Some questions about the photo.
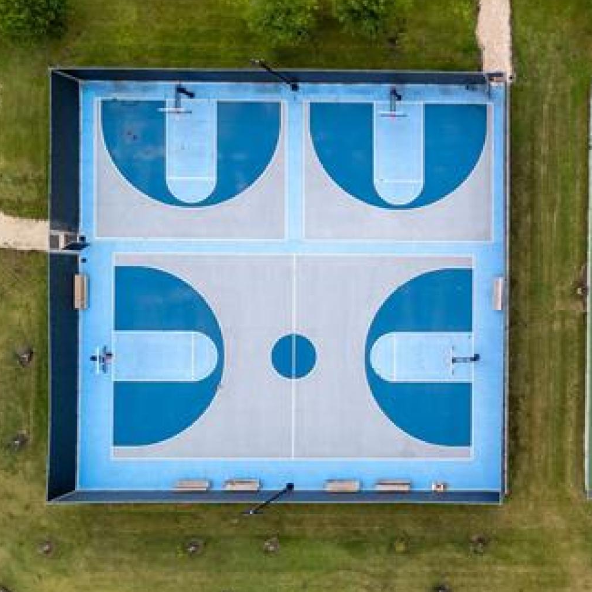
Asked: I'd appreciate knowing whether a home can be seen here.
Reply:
No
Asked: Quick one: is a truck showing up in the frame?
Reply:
No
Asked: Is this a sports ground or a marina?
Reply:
sports ground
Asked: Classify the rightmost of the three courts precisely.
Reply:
basketball court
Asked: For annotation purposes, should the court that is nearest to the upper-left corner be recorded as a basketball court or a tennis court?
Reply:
basketball court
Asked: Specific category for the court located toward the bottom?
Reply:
basketball court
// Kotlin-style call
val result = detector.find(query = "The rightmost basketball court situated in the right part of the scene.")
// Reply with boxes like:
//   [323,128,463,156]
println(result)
[302,100,493,242]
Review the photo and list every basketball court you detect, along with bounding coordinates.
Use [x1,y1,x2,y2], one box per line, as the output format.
[302,100,493,242]
[110,253,474,460]
[94,98,286,240]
